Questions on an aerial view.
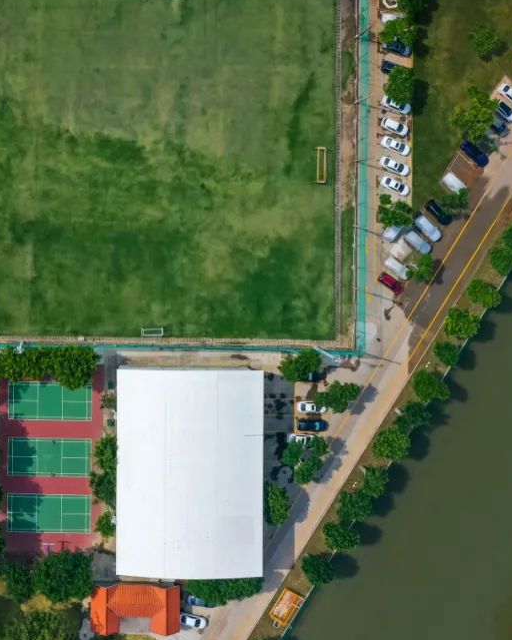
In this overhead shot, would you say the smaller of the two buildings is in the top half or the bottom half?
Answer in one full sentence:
It is in the bottom half that the smaller of the two buildings appears.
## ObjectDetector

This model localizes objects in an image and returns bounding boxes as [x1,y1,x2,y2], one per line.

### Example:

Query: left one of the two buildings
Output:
[91,582,181,637]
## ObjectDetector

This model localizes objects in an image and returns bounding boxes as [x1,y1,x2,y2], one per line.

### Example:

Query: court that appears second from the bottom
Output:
[8,437,92,476]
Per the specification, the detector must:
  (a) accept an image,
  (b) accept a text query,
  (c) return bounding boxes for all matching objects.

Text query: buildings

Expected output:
[91,582,181,637]
[115,368,263,579]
